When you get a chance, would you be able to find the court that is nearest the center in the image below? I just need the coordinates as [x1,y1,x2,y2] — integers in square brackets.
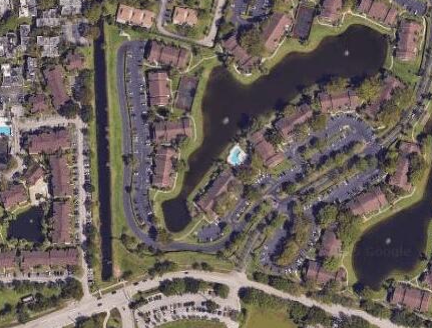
[175,75,198,112]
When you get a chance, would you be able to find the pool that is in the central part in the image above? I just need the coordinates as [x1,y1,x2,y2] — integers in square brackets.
[228,145,246,165]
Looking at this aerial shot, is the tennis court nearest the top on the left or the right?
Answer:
right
